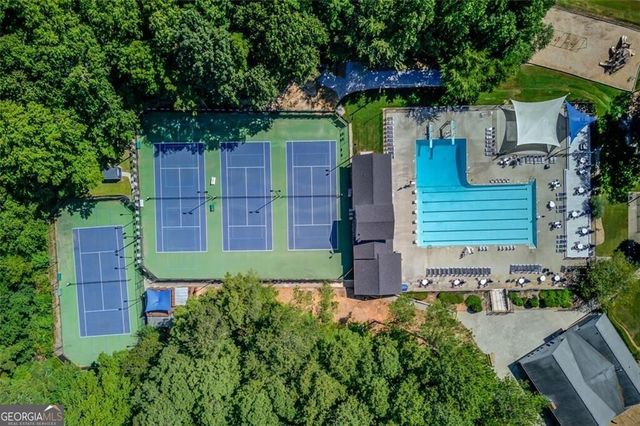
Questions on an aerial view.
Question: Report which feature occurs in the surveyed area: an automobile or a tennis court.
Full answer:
The image shows a tennis court.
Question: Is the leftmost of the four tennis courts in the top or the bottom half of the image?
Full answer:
It is in the bottom half that the leftmost of the four tennis courts appears.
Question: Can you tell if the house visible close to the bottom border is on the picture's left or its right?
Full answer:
The house visible close to the bottom border is on the right side of the image.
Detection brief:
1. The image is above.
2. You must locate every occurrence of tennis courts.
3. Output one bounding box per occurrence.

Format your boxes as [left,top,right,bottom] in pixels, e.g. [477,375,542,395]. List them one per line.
[278,112,352,280]
[137,111,214,281]
[57,199,141,367]
[212,112,281,281]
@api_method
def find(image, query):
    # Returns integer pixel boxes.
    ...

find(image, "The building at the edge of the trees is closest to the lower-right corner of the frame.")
[518,310,640,426]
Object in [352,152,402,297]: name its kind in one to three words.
building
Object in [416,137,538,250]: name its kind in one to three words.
swimming pool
